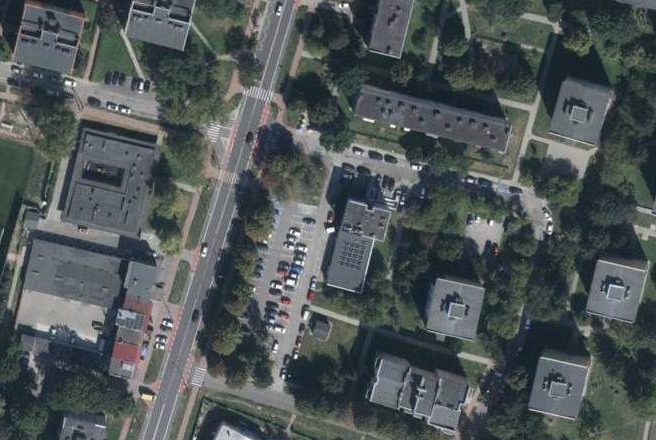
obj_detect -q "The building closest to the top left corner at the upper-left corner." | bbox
[13,0,87,75]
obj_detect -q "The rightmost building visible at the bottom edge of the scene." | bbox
[529,349,588,420]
